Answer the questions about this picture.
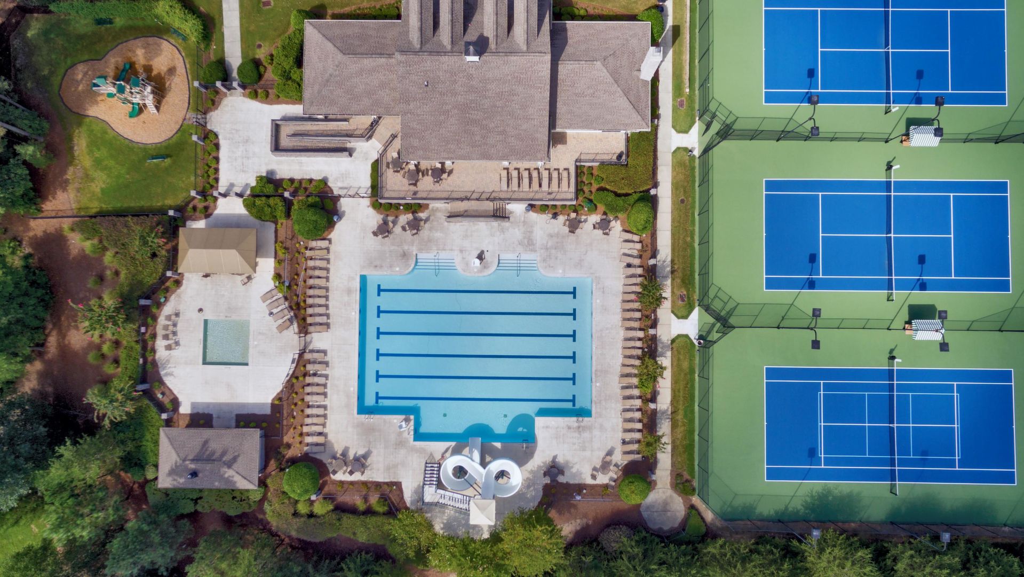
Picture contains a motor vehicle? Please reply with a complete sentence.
No, there is no motor vehicle in the image.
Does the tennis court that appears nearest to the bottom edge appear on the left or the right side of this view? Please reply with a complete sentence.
The tennis court that appears nearest to the bottom edge sits on the right side.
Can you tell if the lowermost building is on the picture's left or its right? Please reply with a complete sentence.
The lowermost building is on the left side of the image.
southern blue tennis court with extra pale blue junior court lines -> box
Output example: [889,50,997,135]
[699,327,1024,525]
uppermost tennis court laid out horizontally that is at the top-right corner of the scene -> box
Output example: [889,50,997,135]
[699,0,1024,157]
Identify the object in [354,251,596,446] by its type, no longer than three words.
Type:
swimming pool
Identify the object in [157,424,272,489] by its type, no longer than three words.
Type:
building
